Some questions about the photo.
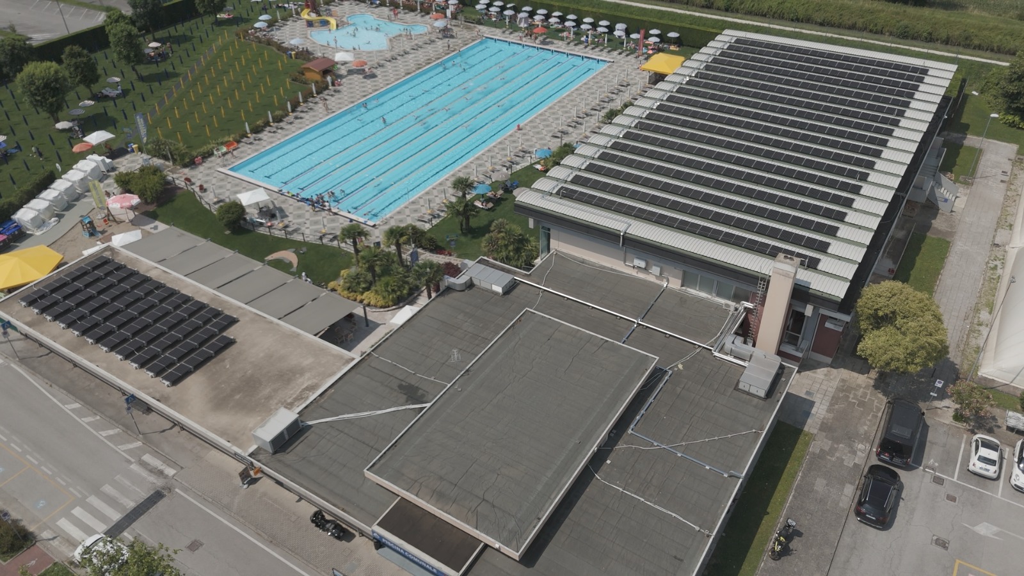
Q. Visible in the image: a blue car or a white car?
white car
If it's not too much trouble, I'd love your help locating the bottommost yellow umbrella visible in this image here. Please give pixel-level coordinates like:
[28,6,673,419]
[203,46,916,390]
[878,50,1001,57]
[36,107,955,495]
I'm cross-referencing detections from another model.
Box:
[0,242,58,289]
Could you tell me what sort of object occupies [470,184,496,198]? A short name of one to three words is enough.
umbrella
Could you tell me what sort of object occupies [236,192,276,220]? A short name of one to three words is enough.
gazebo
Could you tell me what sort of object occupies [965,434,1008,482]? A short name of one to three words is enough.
car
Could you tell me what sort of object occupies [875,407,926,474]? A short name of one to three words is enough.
van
